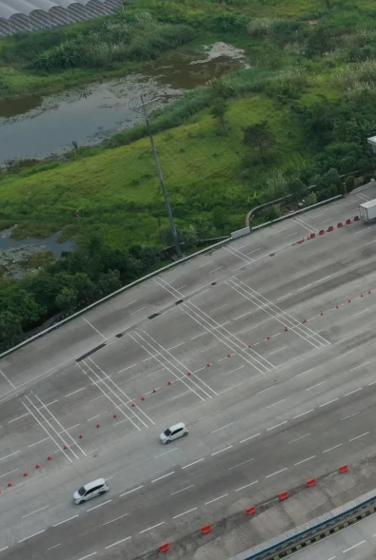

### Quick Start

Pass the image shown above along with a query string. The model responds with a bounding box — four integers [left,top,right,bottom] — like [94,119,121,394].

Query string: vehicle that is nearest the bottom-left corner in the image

[69,477,112,505]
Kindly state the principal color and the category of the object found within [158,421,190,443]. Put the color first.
white car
